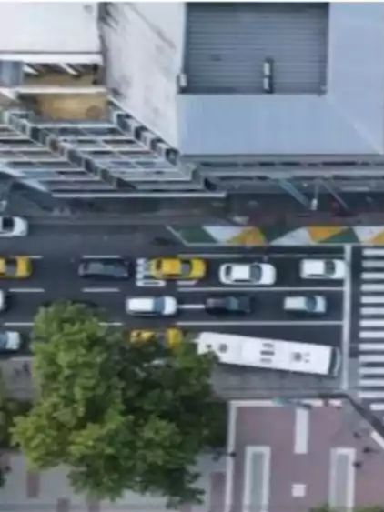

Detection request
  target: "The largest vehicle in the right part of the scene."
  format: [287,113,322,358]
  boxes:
[197,333,342,380]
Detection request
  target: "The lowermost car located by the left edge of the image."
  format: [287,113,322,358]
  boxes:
[0,331,23,353]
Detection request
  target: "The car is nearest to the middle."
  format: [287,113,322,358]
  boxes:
[151,255,208,281]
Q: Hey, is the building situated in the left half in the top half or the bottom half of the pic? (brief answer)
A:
top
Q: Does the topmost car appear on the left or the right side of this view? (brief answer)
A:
left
